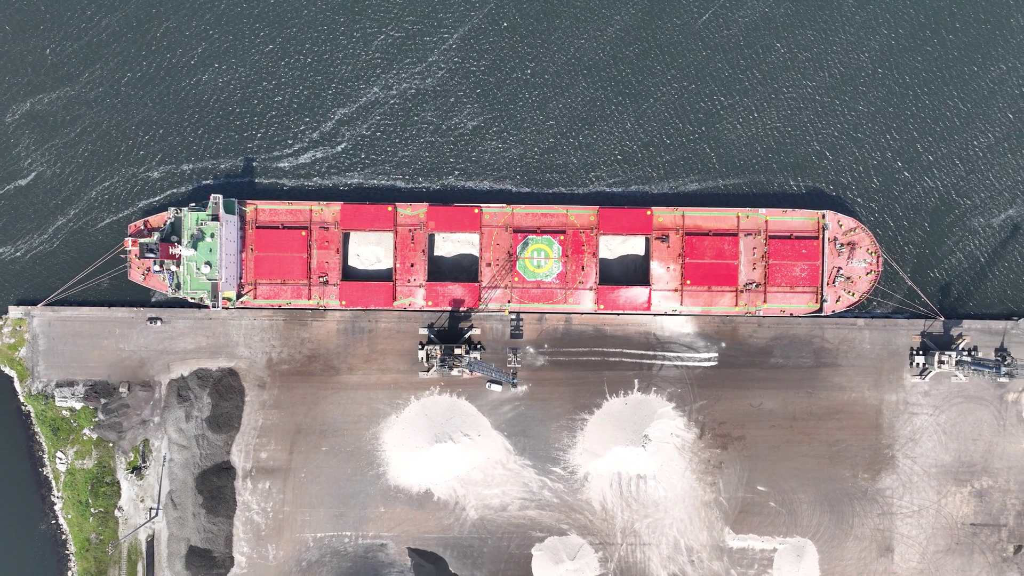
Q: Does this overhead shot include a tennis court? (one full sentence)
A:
No, the frame has no tennis court in it.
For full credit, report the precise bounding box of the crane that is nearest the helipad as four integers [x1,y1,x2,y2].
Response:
[418,328,528,388]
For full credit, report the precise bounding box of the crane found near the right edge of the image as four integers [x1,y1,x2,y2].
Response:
[910,335,1024,382]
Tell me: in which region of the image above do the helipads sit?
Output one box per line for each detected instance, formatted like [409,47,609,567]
[516,235,563,283]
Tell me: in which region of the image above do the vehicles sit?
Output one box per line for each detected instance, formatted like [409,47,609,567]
[146,318,163,326]
[485,381,503,390]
